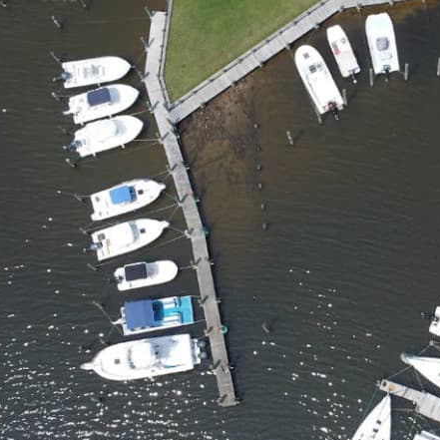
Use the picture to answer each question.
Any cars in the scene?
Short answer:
No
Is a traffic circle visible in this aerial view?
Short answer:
No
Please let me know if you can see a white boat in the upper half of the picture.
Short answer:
Yes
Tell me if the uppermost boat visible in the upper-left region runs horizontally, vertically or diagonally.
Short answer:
horizontally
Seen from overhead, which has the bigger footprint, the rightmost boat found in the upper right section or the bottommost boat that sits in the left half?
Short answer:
the bottommost boat that sits in the left half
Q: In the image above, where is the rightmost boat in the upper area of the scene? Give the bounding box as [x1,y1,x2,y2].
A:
[367,14,400,83]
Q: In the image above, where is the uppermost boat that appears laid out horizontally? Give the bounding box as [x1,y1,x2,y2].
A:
[52,60,132,87]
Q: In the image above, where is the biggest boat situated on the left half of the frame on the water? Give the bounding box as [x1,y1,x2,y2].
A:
[76,333,212,382]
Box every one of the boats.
[60,85,139,126]
[89,180,165,220]
[82,219,169,260]
[351,396,391,440]
[330,25,361,83]
[402,355,440,390]
[111,295,194,339]
[52,60,132,87]
[66,116,143,157]
[76,333,212,382]
[298,45,345,122]
[107,260,178,293]
[367,14,400,83]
